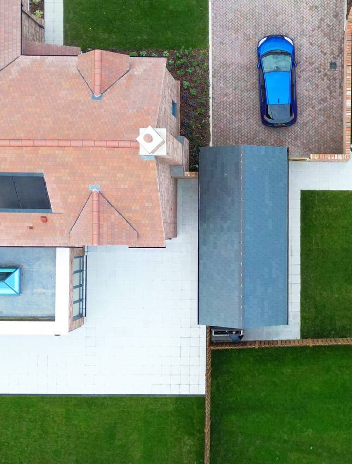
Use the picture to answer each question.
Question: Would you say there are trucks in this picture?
No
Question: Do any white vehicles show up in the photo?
No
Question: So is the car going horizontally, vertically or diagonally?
vertically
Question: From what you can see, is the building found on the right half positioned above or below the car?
below it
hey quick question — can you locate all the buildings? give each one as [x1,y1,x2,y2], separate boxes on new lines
[197,145,289,328]
[0,0,189,336]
